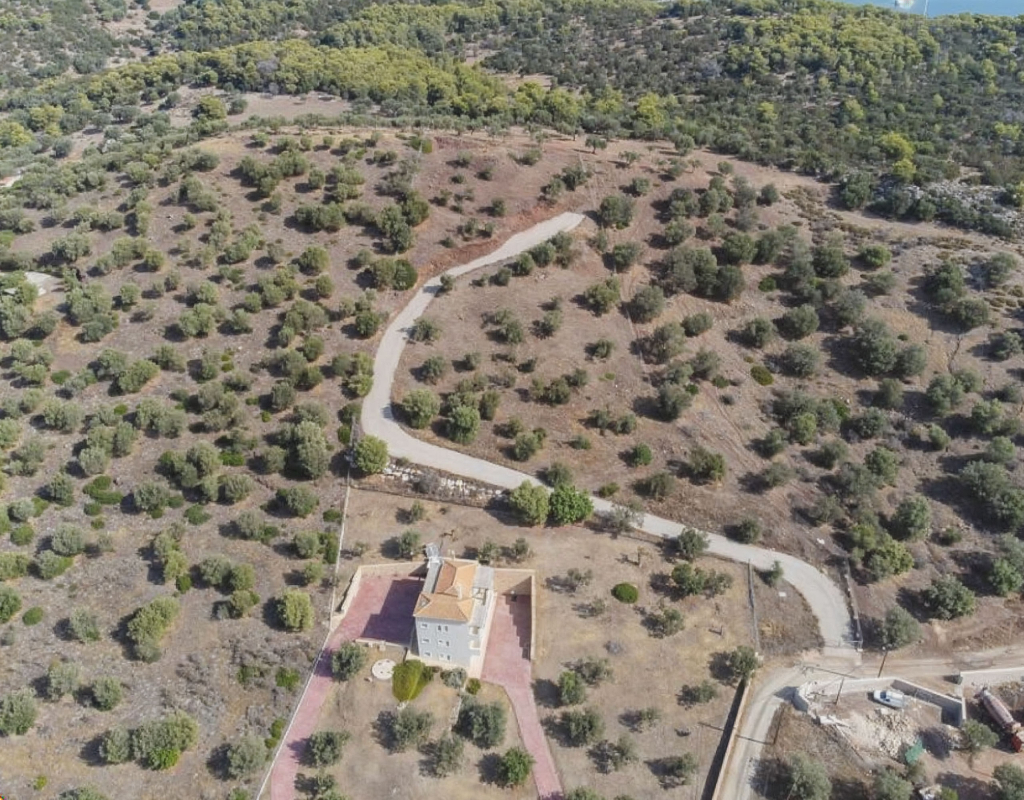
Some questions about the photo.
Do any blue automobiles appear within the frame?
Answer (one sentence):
No, no blue automobile is visible in the view.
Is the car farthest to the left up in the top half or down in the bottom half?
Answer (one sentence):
You can find the car farthest to the left in the bottom half.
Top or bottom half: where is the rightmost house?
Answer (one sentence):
It is in the bottom half that the rightmost house appears.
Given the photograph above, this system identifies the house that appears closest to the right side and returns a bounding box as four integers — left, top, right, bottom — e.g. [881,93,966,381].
[412,562,497,672]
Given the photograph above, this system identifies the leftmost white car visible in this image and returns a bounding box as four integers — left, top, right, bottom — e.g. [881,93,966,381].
[871,688,908,712]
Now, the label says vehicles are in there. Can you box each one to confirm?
[871,688,908,712]
[975,687,1024,756]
